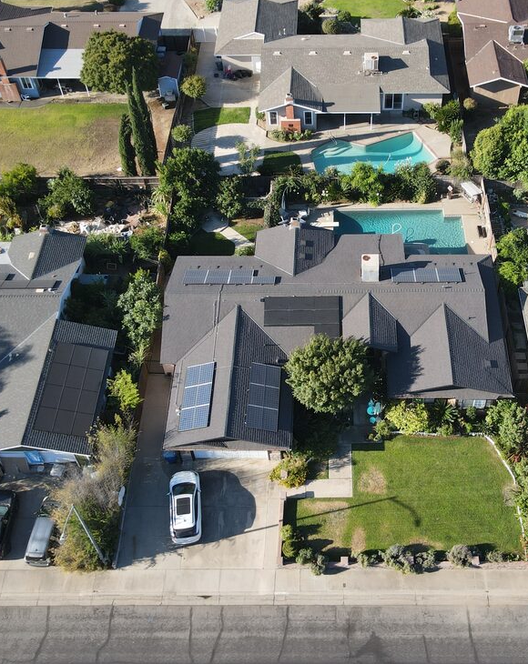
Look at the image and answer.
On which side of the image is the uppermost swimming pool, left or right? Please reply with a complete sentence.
You can find the uppermost swimming pool on the right side of the picture.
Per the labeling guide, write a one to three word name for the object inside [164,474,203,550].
car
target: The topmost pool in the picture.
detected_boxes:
[307,129,441,176]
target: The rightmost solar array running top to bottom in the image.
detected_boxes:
[246,361,281,430]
